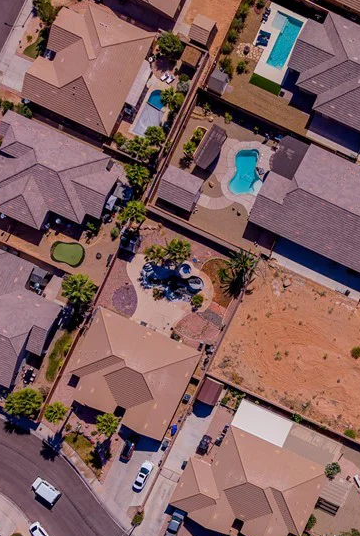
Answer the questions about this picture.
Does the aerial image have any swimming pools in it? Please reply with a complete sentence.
Yes, the photo shows a swimming pool.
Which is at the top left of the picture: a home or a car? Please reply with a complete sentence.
You can see a home at the top left of the picture.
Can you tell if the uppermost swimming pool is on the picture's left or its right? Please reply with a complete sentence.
The uppermost swimming pool is on the right side of the image.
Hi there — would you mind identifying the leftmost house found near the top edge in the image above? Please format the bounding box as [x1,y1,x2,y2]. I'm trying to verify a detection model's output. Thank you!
[21,4,155,137]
